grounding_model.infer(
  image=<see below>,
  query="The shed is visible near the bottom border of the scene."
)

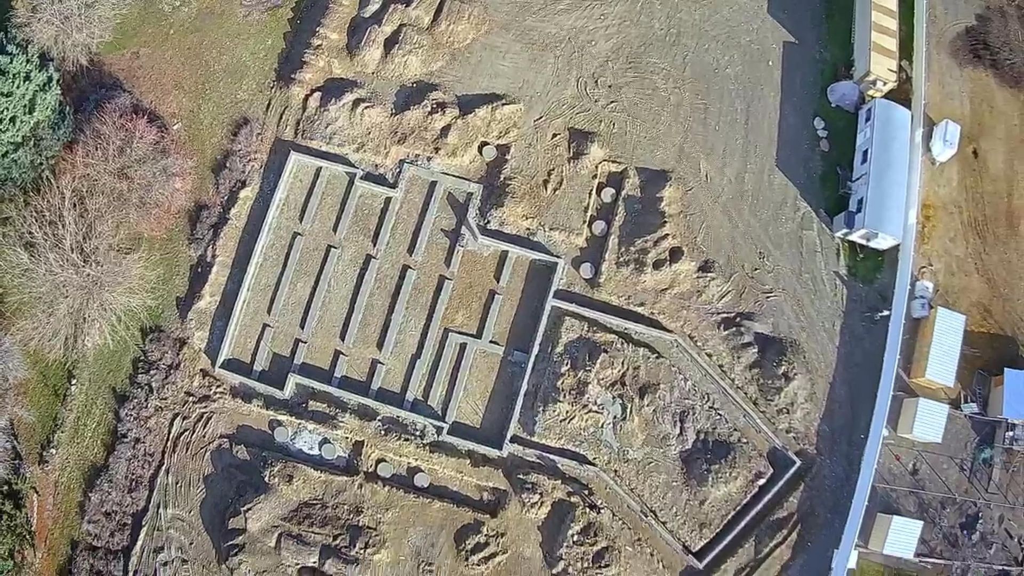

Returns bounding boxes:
[870,511,921,558]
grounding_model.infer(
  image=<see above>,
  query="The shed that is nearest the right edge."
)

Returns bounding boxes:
[982,368,1024,421]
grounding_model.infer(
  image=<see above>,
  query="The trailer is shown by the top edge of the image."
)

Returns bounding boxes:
[854,0,899,104]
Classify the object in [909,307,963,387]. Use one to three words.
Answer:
shed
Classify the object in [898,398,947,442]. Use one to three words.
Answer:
shed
